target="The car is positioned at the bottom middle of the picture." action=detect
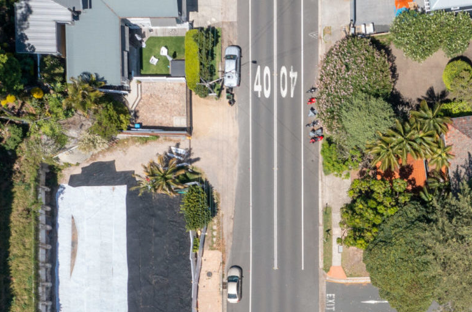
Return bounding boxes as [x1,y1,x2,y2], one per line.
[225,267,243,303]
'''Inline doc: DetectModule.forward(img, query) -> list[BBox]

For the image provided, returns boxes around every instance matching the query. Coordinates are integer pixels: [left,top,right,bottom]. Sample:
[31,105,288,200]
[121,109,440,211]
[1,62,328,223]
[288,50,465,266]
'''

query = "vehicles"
[222,45,241,87]
[309,135,324,143]
[304,107,323,118]
[309,127,325,137]
[303,95,319,104]
[304,120,320,127]
[225,267,243,303]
